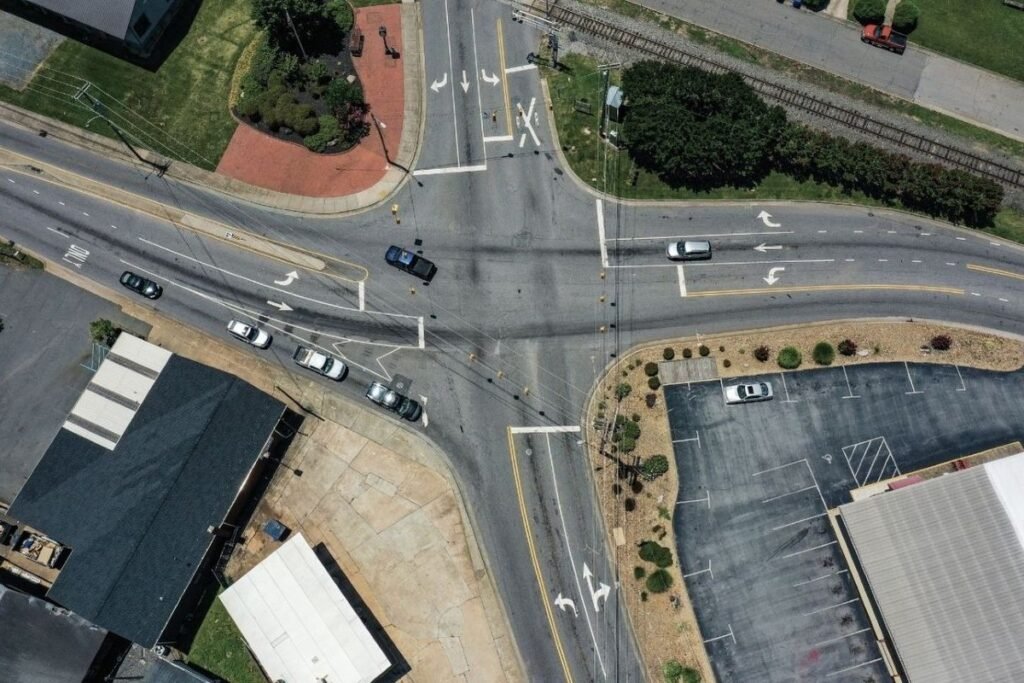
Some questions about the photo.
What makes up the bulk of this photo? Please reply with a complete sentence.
The largest share of the image is taken up by paved ground.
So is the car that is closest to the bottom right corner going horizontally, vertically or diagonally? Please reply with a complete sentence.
The car that is closest to the bottom right corner runs horizontally in the image.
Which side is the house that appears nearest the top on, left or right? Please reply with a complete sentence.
You can find the house that appears nearest the top on the left side of the picture.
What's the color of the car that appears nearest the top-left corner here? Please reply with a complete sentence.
The car that appears nearest the top-left corner is black.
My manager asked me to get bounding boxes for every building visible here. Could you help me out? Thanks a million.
[143,656,214,683]
[4,331,291,650]
[29,0,202,74]
[219,533,398,683]
[833,452,1024,683]
[608,87,623,120]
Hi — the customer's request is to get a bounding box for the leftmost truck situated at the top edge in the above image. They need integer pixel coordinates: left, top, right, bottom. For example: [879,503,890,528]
[862,22,912,49]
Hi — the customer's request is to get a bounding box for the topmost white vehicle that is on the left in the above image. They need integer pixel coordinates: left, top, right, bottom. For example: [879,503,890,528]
[224,317,270,347]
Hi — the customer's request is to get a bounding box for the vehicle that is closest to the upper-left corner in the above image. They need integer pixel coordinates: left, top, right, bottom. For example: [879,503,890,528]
[118,271,160,296]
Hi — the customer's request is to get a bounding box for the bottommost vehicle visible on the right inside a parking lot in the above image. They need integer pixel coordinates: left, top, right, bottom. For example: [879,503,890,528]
[726,380,776,403]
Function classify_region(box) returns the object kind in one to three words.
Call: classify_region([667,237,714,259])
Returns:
car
